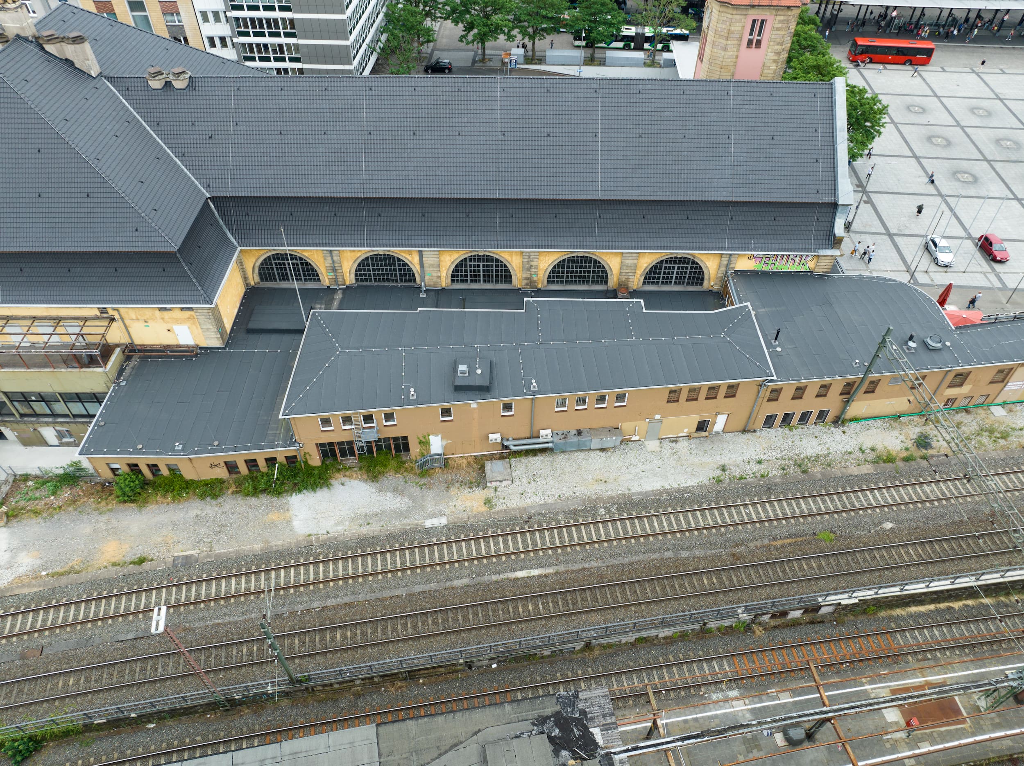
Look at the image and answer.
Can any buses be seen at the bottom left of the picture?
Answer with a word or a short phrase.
No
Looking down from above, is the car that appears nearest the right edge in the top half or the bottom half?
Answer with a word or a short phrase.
top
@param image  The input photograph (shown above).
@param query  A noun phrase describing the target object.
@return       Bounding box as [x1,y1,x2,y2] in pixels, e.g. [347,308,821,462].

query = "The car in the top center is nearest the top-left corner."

[423,58,451,72]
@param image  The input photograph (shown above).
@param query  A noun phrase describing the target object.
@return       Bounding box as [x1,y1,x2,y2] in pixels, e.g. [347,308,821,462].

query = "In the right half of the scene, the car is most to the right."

[978,230,1014,259]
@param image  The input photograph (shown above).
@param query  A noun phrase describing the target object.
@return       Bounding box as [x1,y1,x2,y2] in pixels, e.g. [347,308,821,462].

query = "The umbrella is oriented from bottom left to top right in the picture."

[938,282,955,305]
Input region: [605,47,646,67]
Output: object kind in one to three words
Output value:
shed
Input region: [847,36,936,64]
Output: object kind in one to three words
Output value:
bus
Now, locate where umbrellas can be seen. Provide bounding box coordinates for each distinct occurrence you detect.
[939,302,990,328]
[938,282,955,305]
